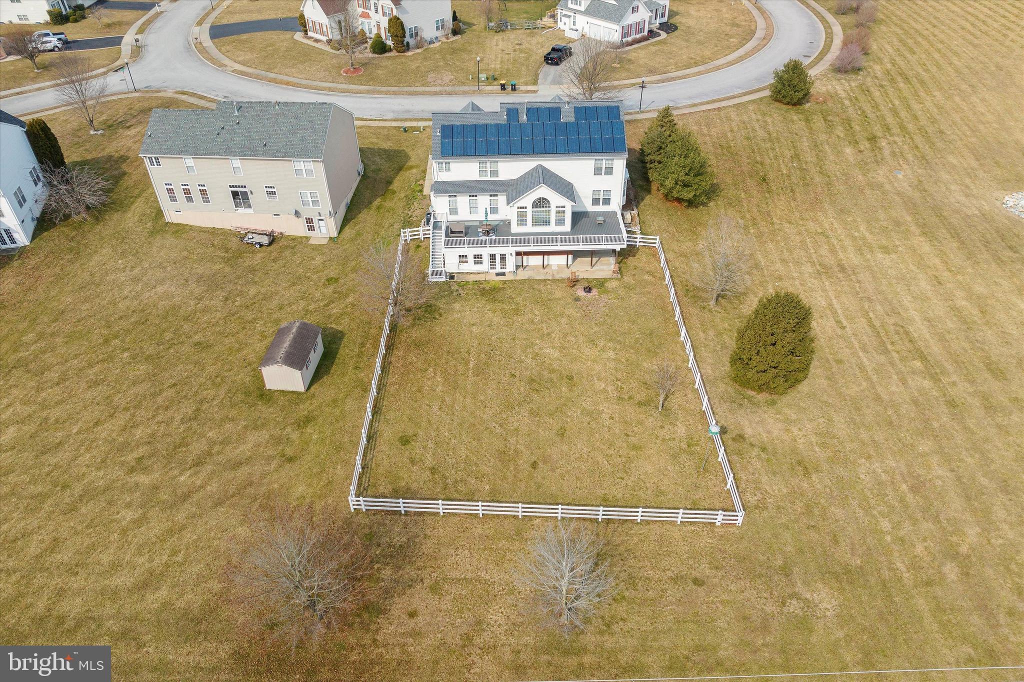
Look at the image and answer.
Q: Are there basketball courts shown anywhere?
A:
No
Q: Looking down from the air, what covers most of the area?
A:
grass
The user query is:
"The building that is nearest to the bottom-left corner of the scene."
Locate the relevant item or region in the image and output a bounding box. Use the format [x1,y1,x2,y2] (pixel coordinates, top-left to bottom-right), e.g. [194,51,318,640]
[257,320,326,391]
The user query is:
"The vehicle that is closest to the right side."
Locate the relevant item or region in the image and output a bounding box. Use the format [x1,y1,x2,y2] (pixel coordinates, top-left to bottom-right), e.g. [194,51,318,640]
[548,43,575,61]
